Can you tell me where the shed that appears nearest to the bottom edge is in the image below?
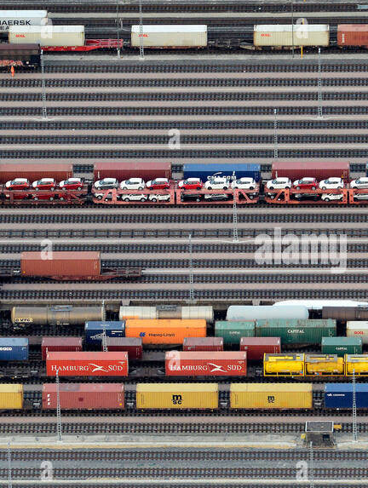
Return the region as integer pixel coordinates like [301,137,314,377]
[305,421,336,449]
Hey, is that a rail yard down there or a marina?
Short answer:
rail yard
